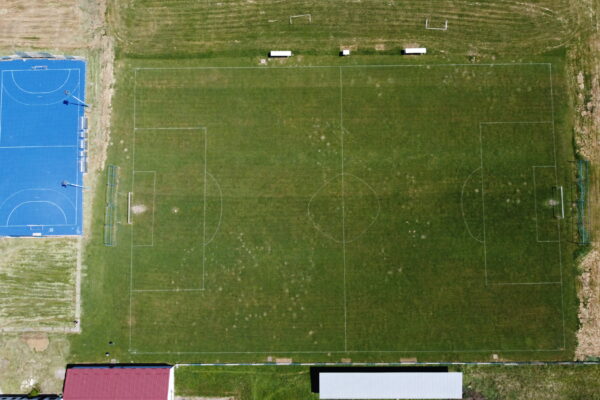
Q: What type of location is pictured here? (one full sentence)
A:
This image shows a sports ground.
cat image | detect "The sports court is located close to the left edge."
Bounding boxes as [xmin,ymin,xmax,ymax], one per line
[0,59,88,238]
